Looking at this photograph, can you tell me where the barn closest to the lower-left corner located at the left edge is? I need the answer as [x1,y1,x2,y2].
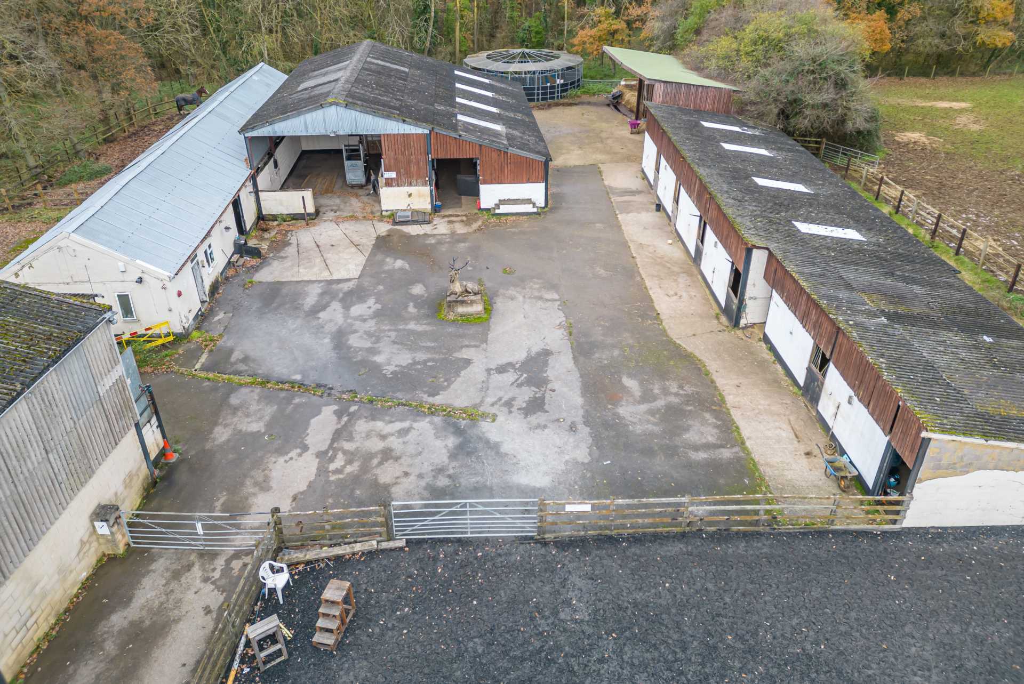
[0,280,164,684]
